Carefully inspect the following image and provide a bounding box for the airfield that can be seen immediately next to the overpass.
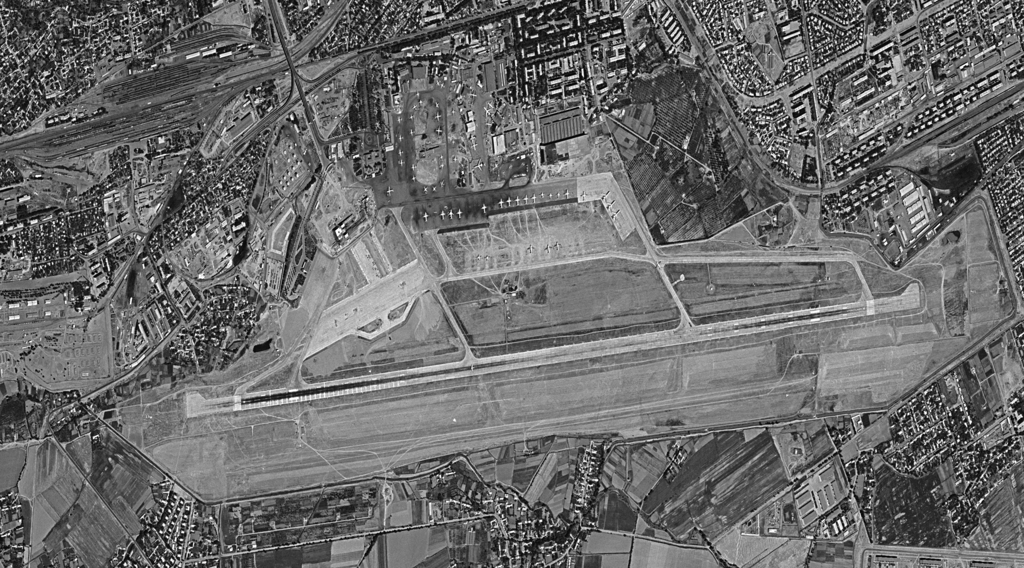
[187,78,920,418]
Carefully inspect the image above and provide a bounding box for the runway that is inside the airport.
[232,299,875,411]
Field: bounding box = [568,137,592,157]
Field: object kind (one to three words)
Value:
building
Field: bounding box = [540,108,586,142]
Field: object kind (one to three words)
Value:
building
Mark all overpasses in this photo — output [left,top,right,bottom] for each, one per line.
[268,0,321,147]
